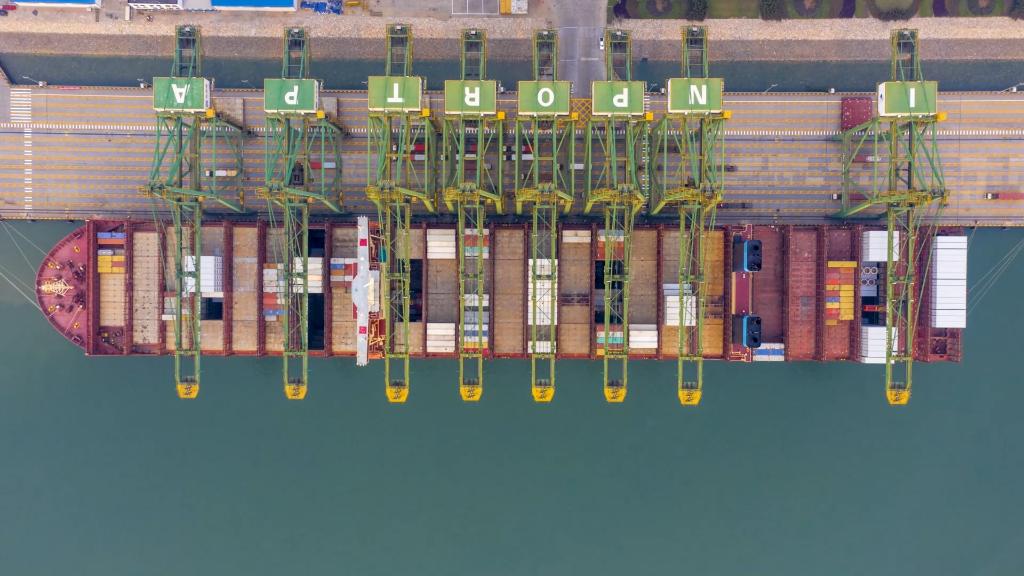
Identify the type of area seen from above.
port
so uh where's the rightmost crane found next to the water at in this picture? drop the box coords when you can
[829,29,948,404]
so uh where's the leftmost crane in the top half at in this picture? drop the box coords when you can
[144,25,257,399]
